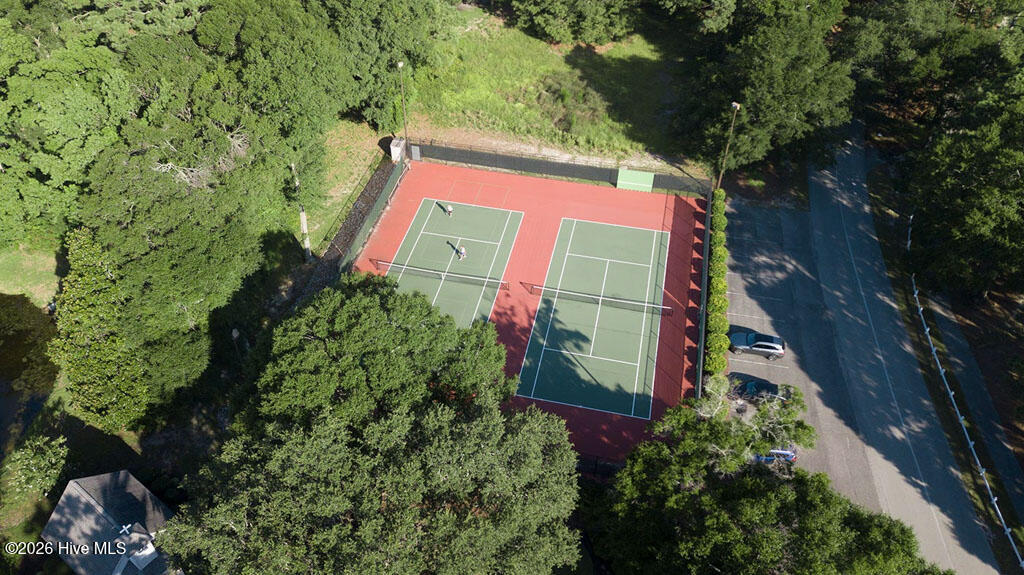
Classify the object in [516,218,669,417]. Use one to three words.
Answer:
tennis court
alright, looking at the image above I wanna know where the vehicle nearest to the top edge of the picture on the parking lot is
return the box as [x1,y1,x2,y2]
[728,330,786,360]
